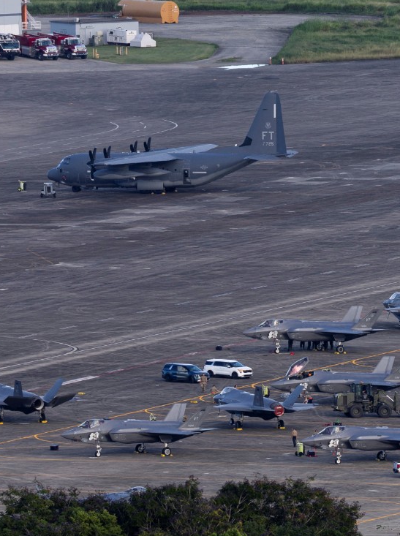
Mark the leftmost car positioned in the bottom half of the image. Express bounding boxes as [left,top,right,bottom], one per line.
[155,361,210,383]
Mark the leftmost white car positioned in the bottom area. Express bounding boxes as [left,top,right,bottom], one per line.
[197,357,253,378]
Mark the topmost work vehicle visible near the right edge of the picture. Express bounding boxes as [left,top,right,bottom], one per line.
[331,378,400,417]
